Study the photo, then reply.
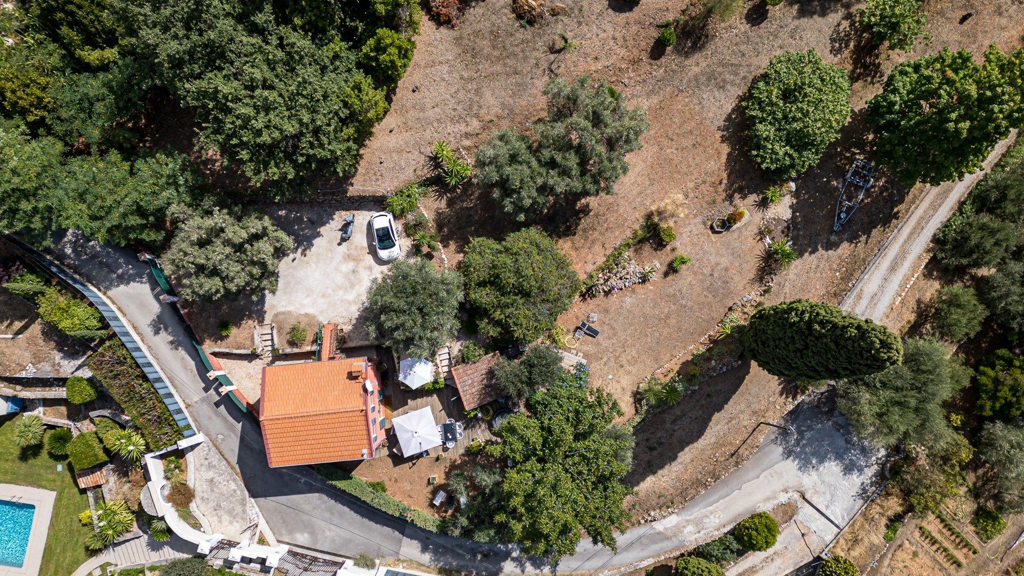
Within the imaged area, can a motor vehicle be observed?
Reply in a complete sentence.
Yes, the picture does show a motor vehicle.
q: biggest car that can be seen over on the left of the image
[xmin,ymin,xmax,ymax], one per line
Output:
[371,211,403,264]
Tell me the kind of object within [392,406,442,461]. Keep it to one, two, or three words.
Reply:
umbrella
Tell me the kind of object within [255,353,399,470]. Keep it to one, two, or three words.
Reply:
house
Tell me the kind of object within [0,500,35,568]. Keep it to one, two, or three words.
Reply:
swimming pool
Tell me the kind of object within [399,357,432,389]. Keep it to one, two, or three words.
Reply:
umbrella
